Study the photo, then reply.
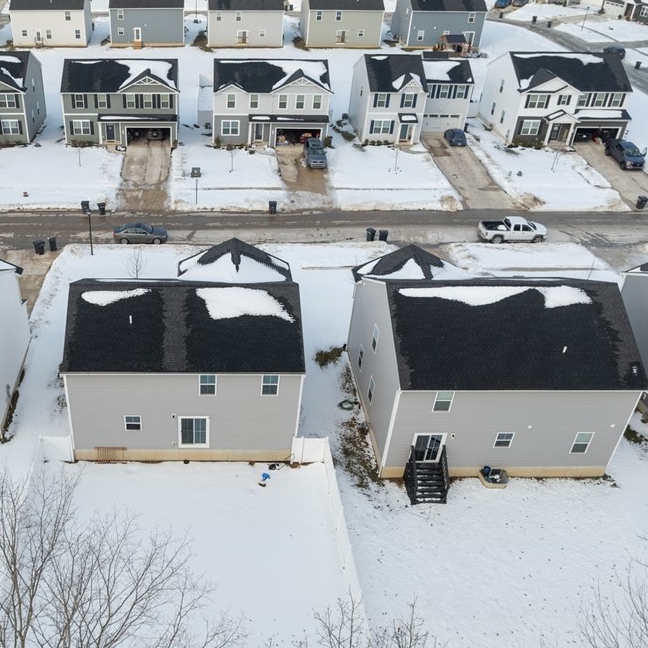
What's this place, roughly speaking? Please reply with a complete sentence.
What you see here is a residential area.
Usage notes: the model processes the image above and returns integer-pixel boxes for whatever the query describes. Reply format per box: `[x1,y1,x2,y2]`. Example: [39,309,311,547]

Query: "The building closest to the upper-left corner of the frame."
[8,0,92,48]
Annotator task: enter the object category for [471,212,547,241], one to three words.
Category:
vehicle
